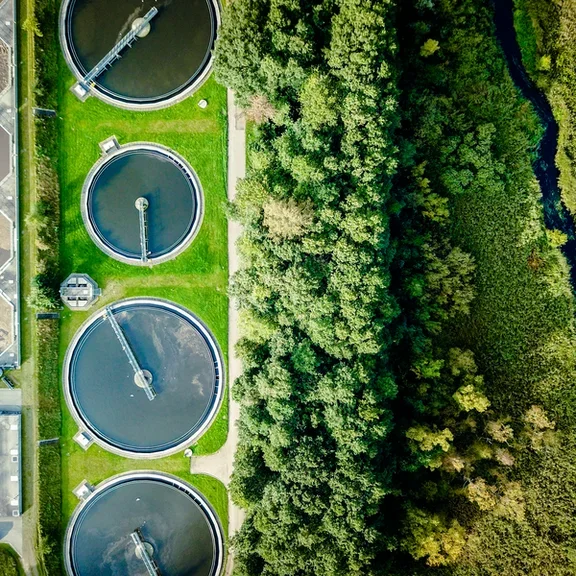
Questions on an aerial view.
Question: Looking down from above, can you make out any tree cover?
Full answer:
Yes, there is tree cover in the image.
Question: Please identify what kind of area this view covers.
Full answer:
What you see here is an industrial area.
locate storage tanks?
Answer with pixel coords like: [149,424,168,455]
[64,469,225,576]
[62,296,225,458]
[82,142,205,266]
[60,0,223,110]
